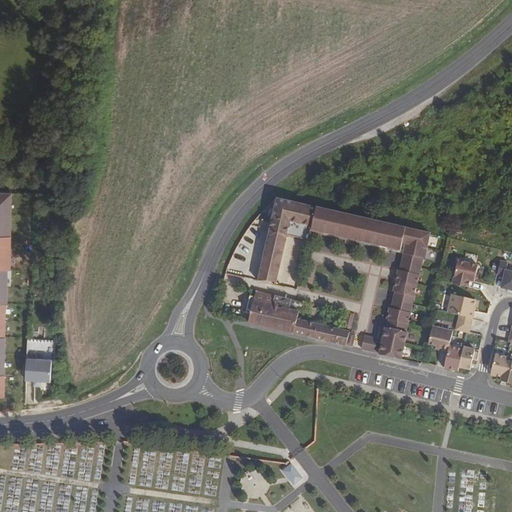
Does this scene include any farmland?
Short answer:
Yes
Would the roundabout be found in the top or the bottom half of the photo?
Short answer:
bottom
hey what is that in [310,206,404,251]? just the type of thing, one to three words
building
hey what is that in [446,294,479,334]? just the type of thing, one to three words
house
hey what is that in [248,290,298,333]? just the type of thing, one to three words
house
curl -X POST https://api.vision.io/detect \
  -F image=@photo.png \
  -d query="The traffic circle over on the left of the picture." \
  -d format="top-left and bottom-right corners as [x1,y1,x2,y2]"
[135,328,221,409]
